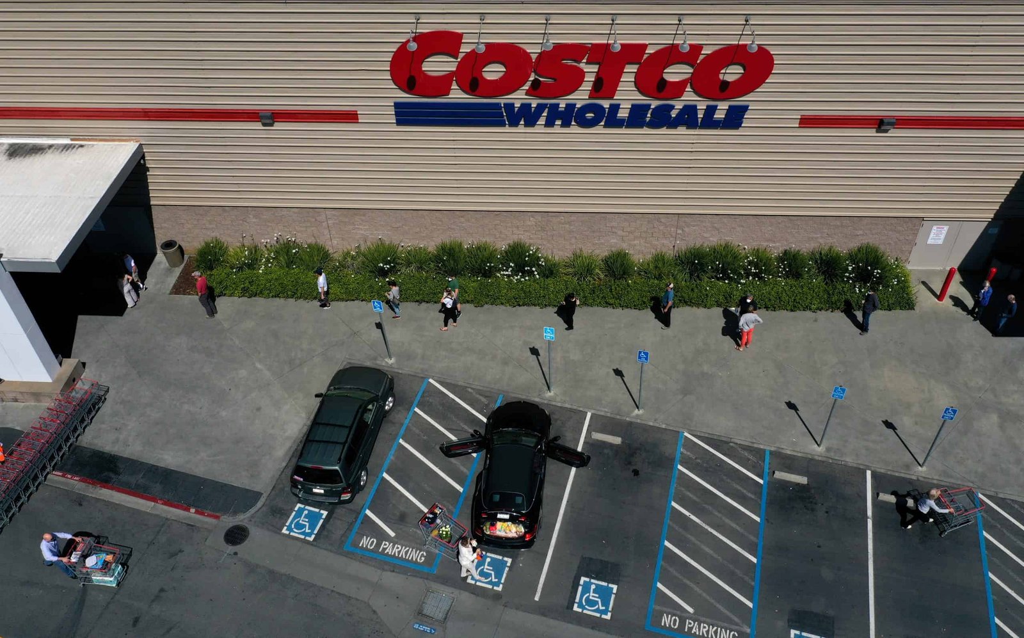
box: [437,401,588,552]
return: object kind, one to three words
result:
car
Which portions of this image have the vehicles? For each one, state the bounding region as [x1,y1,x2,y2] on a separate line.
[287,367,390,508]
[437,401,588,552]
